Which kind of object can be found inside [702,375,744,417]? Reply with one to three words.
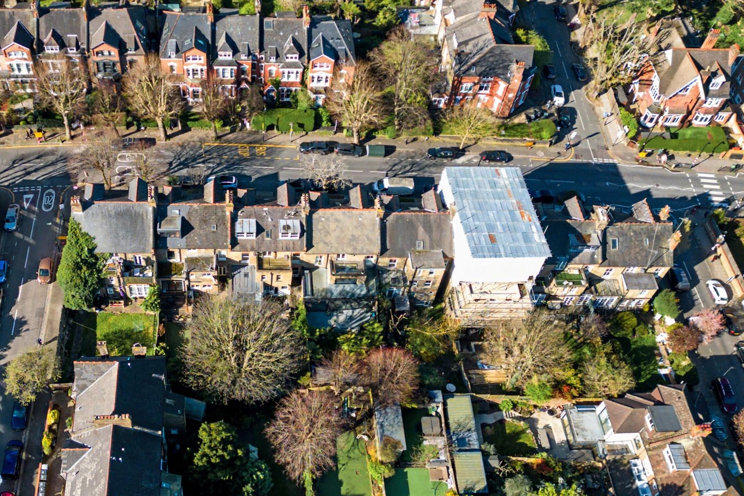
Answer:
car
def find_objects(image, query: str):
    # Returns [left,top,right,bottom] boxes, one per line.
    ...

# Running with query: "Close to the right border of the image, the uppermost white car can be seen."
[701,278,736,307]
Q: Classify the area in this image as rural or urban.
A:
urban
